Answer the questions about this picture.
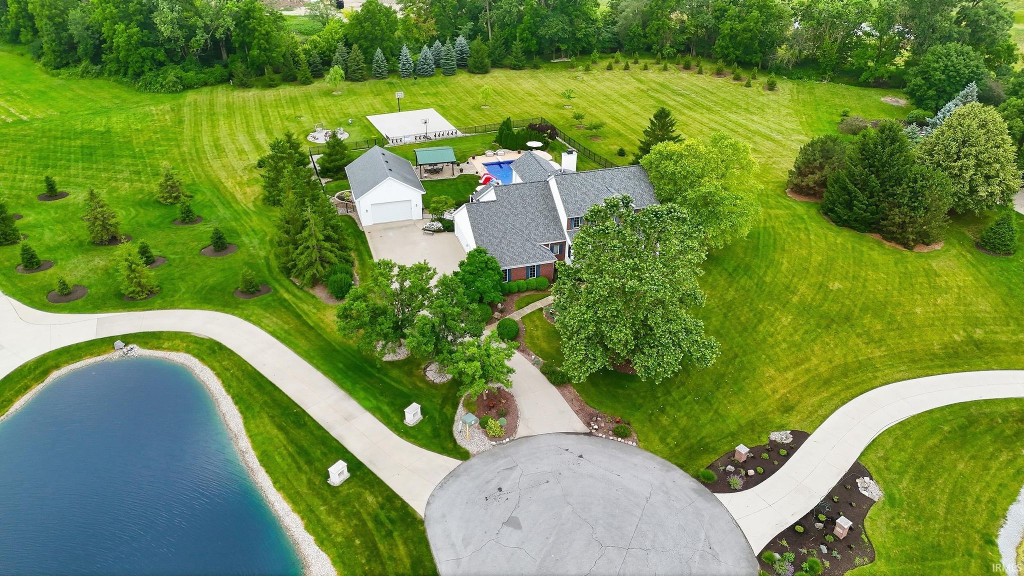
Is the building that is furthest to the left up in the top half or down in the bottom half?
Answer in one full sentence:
The top half of the photo is where the building that is furthest to the left is.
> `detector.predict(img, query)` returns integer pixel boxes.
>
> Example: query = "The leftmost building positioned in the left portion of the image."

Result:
[347,143,425,226]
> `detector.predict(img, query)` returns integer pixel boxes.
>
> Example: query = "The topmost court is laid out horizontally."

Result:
[366,108,463,144]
